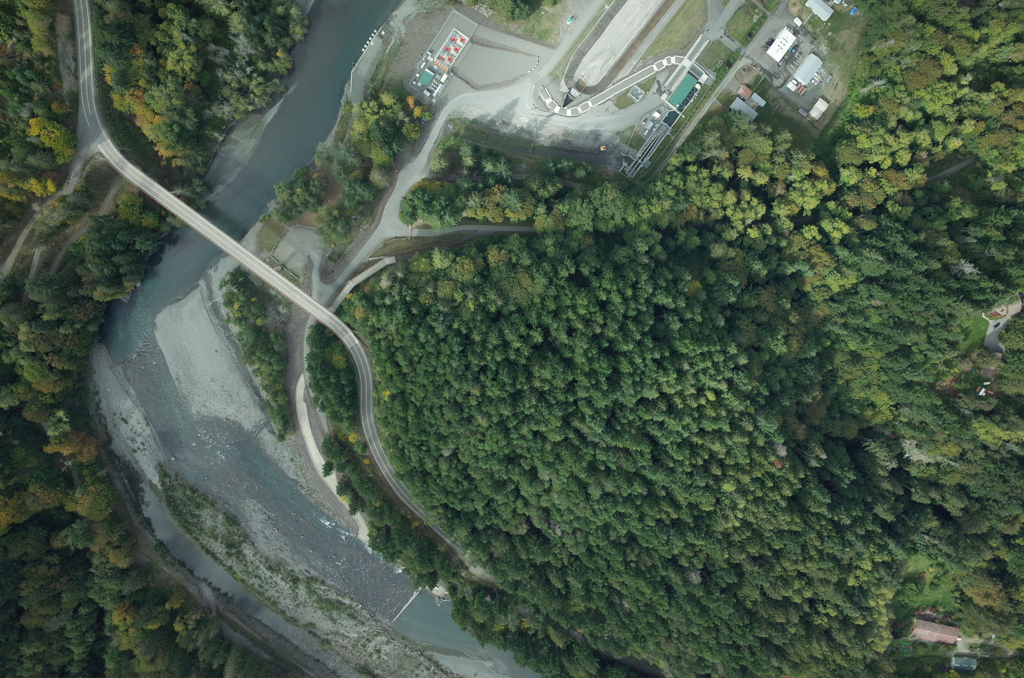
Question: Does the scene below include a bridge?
Yes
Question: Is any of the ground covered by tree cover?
Yes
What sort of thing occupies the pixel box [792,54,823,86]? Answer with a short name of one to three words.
barn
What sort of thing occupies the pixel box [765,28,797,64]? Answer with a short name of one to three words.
building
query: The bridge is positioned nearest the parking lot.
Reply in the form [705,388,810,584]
[663,34,709,92]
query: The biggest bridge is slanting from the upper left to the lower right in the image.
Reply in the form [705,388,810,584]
[96,137,361,350]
